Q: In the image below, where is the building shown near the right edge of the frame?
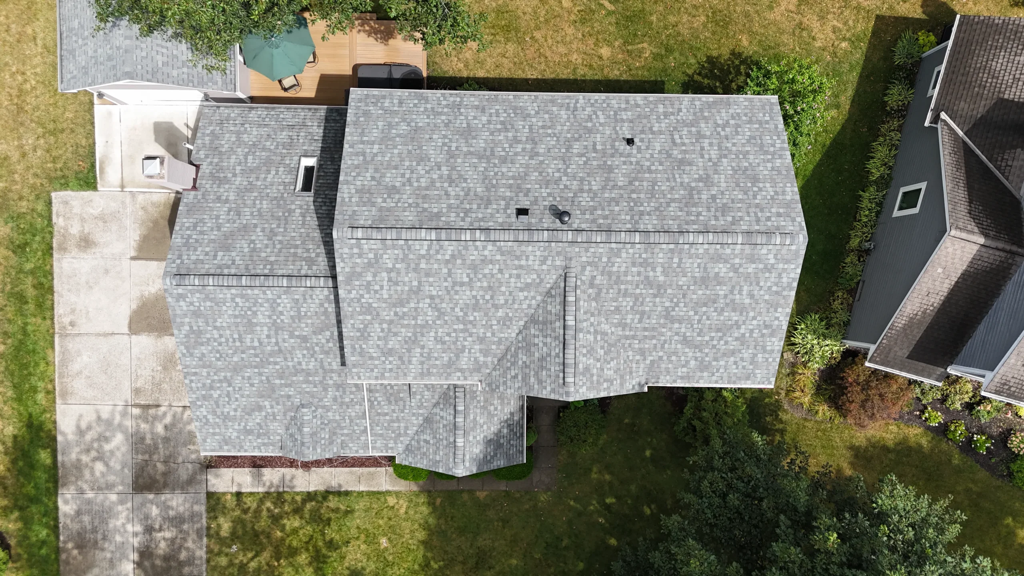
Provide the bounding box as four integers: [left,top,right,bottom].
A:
[841,15,1024,407]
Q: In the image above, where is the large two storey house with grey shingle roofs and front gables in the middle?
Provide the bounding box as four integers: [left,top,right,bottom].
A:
[135,89,807,476]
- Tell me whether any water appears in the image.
No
